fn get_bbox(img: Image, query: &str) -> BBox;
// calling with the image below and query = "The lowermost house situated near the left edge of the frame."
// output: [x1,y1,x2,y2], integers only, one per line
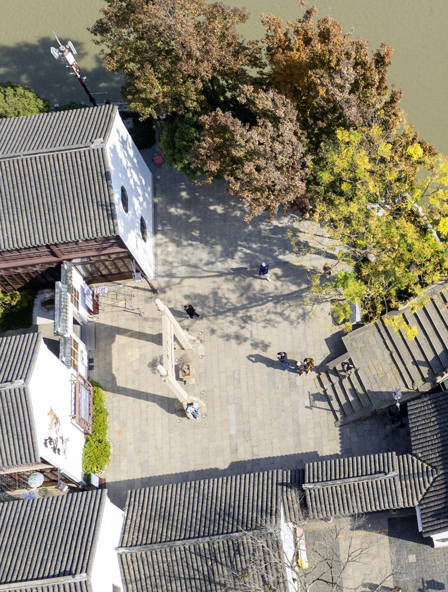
[0,489,123,592]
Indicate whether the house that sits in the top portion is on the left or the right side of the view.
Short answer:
left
